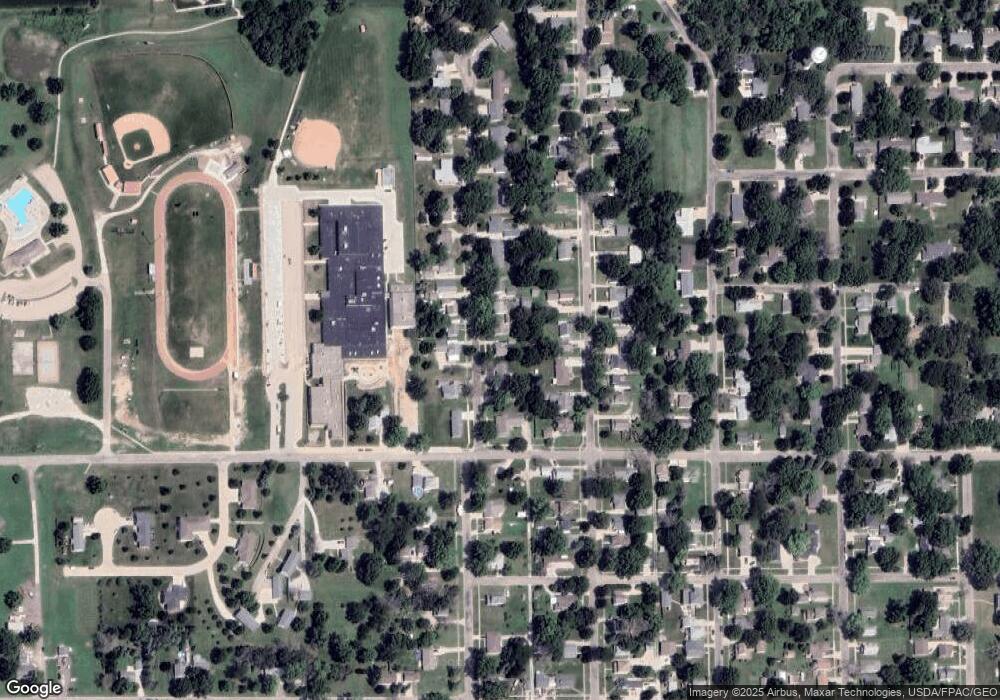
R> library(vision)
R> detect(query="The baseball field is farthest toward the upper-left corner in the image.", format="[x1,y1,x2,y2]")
[94,54,232,172]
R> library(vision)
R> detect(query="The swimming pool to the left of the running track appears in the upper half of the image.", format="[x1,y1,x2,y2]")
[0,176,50,270]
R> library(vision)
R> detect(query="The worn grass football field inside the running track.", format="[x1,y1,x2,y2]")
[168,184,226,369]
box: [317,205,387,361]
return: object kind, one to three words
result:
building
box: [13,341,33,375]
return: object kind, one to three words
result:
sports court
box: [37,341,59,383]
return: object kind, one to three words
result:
sports court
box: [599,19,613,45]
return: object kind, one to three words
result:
house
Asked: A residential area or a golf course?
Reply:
residential area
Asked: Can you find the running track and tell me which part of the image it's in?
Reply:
left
